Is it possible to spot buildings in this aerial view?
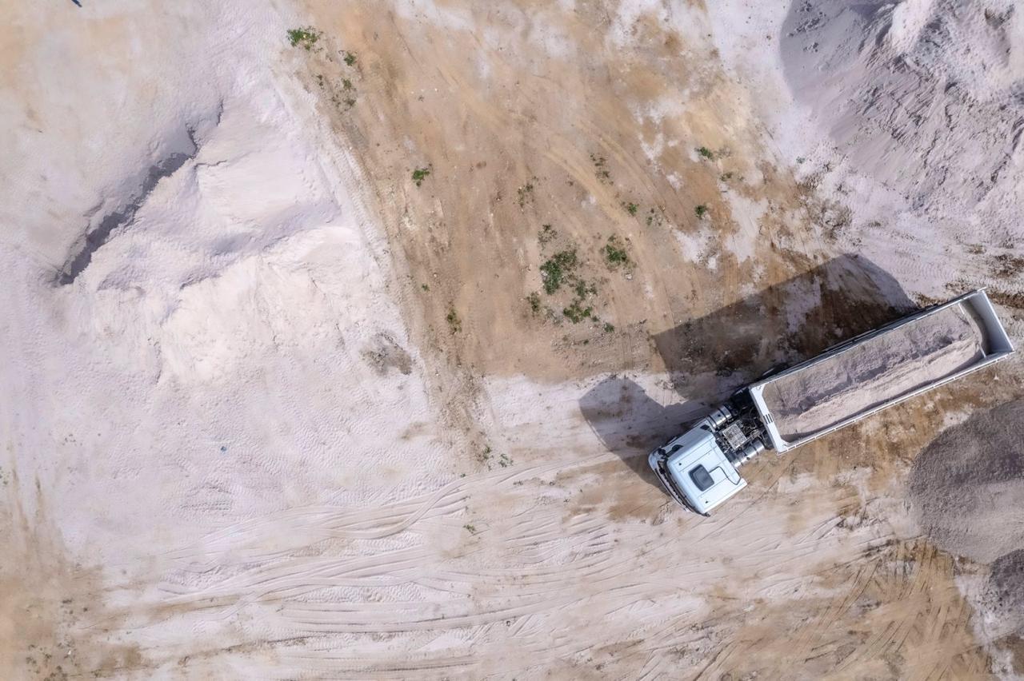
No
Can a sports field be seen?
No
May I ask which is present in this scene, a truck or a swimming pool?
truck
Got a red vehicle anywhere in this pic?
No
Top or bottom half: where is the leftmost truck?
bottom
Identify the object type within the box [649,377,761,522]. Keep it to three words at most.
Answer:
truck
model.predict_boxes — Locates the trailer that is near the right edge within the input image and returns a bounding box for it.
[735,284,1019,456]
